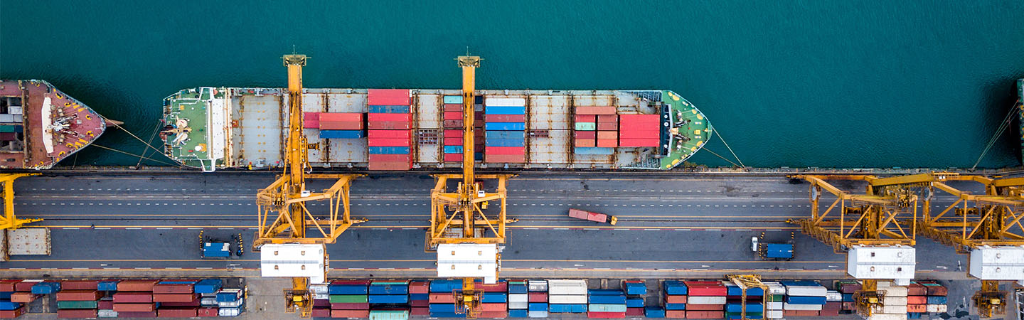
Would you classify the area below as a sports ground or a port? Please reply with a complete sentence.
This image shows a port.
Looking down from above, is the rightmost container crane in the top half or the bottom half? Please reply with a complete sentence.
Seen from above, the rightmost container crane lies in the bottom half of the view.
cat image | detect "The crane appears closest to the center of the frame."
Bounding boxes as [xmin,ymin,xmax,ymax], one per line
[422,48,518,319]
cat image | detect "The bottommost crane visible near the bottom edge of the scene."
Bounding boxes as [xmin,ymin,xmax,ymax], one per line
[724,275,770,320]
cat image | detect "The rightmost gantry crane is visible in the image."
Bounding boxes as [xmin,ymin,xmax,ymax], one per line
[893,172,1024,320]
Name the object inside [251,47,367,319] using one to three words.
container crane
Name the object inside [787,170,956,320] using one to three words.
container crane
